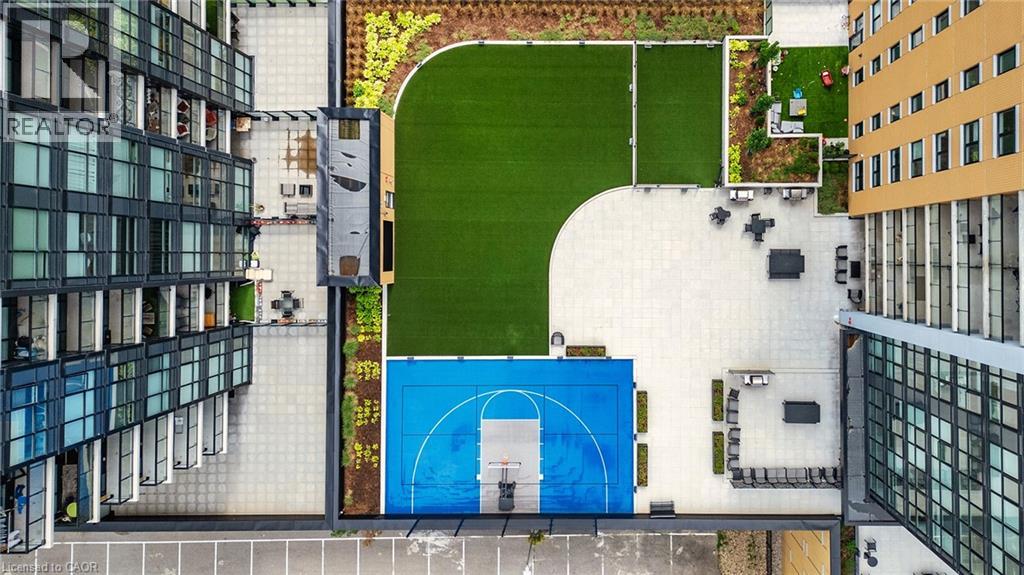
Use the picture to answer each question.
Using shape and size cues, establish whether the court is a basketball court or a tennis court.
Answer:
basketball court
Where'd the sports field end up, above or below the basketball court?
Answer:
above it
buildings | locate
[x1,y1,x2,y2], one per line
[833,0,1024,575]
[318,109,394,286]
[0,0,254,559]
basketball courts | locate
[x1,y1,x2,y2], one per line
[386,361,634,515]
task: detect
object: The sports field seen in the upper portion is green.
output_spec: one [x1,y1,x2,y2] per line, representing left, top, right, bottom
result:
[388,39,633,356]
